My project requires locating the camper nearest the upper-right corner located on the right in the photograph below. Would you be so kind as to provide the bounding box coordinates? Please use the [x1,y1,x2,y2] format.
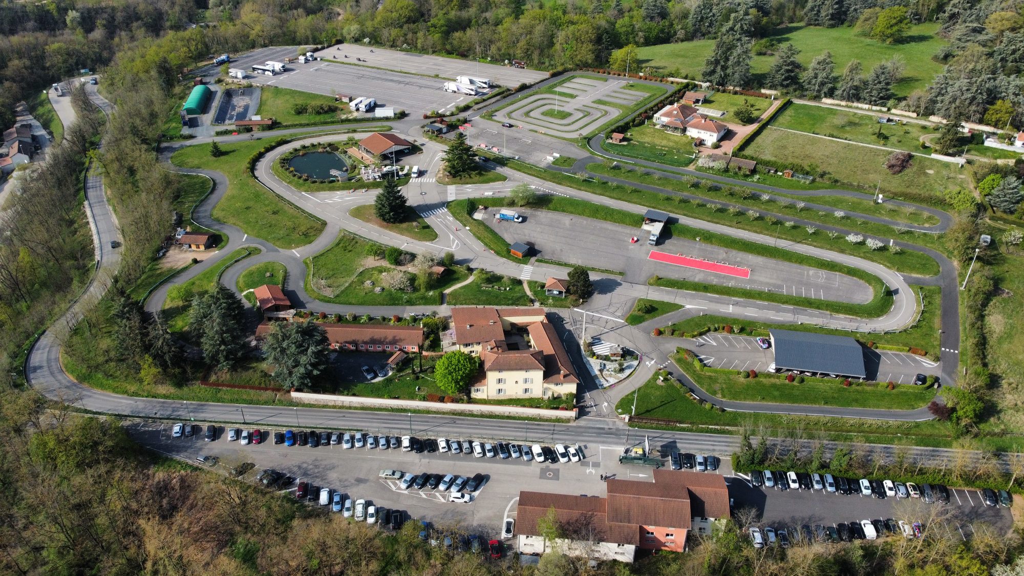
[979,231,991,247]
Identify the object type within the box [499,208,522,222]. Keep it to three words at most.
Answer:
vehicle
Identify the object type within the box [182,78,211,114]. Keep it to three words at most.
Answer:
shed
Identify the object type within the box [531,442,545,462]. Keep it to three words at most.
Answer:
car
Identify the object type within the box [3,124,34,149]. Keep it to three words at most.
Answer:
house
